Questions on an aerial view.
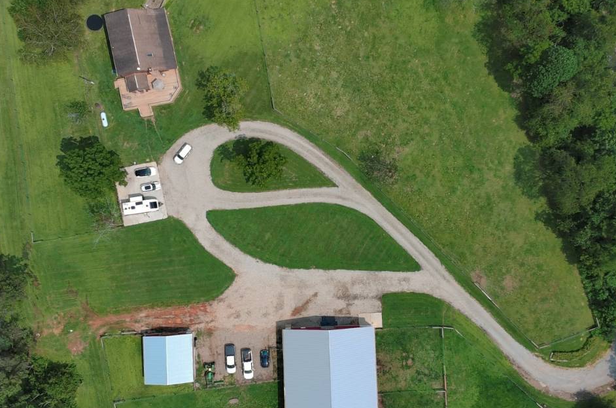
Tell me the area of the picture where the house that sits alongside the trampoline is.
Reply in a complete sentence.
The house that sits alongside the trampoline is located in the top left region of the scene.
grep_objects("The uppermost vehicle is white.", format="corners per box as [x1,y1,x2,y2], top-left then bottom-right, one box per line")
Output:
[174,141,193,166]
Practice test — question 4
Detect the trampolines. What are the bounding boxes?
[86,14,103,31]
